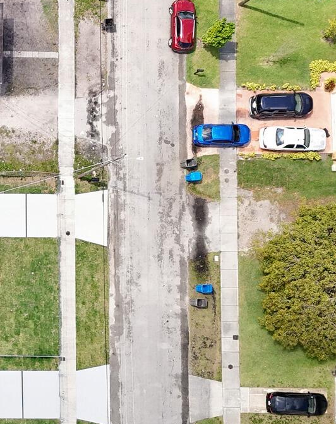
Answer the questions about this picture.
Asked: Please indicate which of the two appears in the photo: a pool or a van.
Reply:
van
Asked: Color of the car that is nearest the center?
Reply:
blue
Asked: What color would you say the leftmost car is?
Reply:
red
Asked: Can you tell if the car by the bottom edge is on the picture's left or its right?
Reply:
right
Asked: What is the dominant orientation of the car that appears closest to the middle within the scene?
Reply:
from side to side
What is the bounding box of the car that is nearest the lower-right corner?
[265,390,328,418]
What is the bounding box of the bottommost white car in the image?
[259,124,328,154]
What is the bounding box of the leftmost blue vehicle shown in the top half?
[193,122,252,149]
